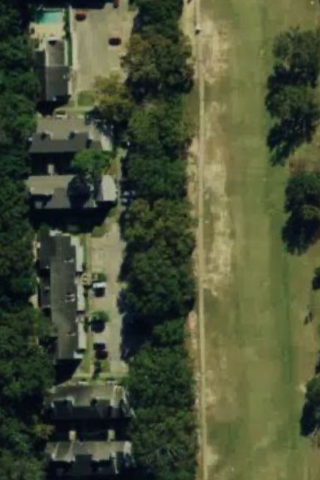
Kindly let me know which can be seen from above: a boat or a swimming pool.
swimming pool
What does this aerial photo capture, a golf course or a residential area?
golf course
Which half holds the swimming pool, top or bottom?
top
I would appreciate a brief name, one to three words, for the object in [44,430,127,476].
building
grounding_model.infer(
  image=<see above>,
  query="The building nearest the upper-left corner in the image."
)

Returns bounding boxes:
[34,36,68,101]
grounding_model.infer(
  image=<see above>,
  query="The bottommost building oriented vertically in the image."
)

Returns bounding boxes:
[39,231,86,358]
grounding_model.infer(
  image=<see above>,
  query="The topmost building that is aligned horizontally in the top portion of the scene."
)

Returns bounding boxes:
[26,113,112,151]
